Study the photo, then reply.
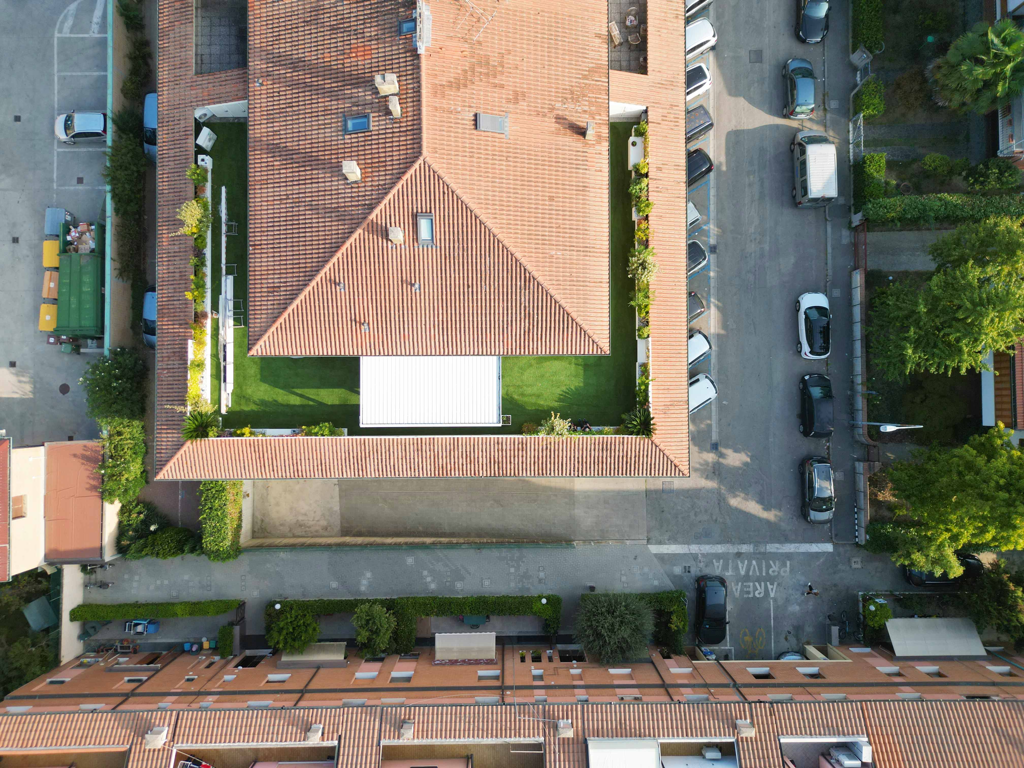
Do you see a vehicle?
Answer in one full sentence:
Yes, a vehicle appears in the view.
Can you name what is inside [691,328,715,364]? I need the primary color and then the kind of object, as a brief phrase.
white car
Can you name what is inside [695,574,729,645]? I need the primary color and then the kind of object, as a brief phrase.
black car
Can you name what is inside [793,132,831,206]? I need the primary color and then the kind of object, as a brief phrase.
white vehicle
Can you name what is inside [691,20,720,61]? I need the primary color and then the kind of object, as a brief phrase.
white car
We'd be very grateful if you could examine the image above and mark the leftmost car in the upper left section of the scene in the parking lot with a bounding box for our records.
[52,109,105,144]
